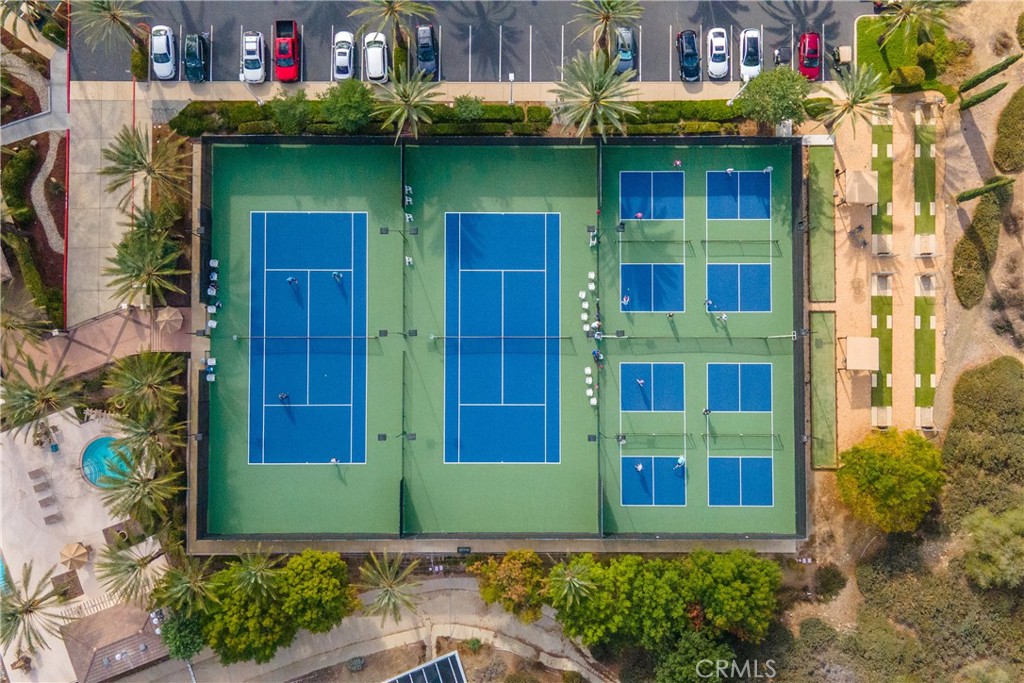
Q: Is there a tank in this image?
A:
No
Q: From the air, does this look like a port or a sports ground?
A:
sports ground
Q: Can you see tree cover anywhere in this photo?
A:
Yes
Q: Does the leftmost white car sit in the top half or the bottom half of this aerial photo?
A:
top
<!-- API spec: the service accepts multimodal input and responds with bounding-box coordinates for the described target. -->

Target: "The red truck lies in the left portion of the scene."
[272,20,299,84]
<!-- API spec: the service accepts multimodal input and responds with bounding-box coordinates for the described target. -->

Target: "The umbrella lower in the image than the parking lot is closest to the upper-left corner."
[157,306,184,333]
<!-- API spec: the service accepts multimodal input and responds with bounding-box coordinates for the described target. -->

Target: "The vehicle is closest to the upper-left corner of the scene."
[150,26,176,81]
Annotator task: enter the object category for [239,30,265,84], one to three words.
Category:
car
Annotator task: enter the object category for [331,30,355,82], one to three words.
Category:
car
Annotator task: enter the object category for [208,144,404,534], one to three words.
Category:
tennis court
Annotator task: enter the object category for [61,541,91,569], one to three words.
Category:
umbrella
